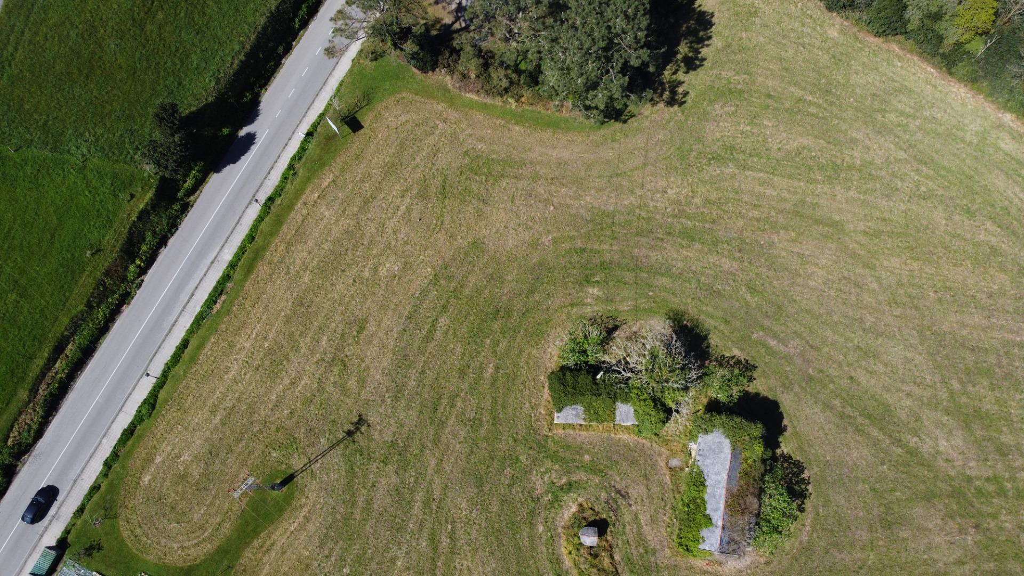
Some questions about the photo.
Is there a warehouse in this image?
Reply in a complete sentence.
No, there's no warehouse here.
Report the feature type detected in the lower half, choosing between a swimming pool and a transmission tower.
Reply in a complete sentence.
It is a transmission tower that can be seen in the lower half.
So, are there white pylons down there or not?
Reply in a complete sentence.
No, the frame has no white pylon in it.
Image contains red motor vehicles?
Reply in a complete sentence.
No, this view has no red motor vehicle in it.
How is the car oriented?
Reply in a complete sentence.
In this picture, the car is oriented at an angle.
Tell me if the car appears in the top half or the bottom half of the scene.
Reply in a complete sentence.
Seen from above, the car lies in the bottom half of the view.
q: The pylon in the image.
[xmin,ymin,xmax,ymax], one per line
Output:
[227,470,282,505]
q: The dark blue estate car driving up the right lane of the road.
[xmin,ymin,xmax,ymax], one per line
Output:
[17,483,57,529]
